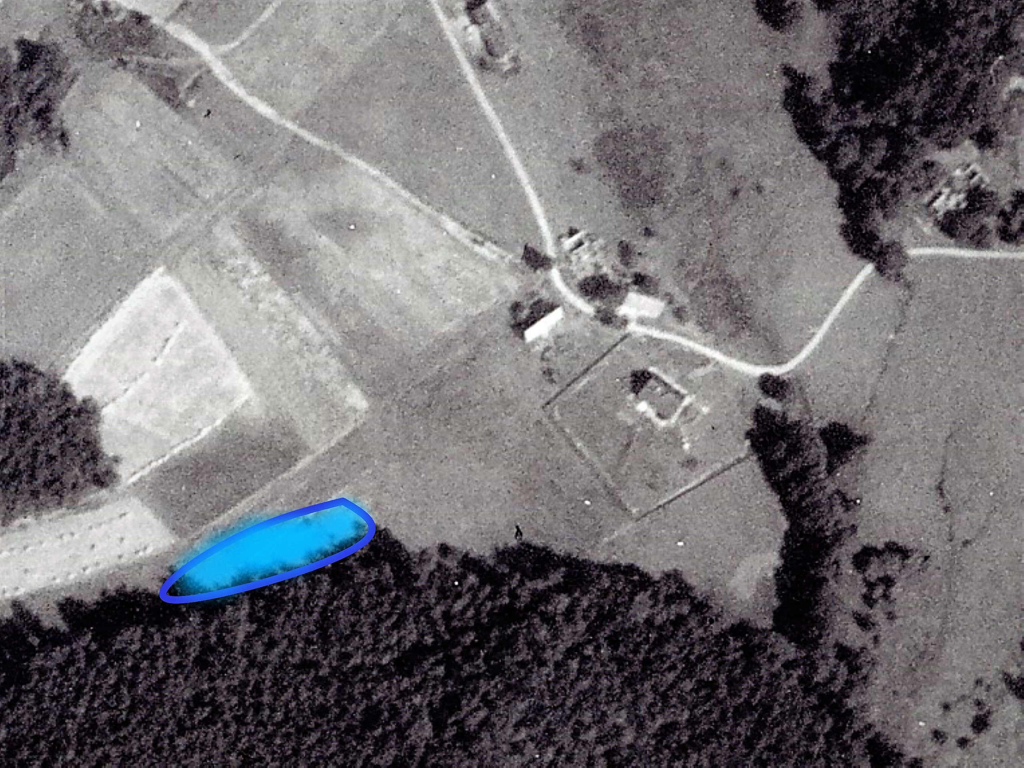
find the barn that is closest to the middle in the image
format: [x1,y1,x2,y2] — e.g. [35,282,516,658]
[522,303,565,341]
